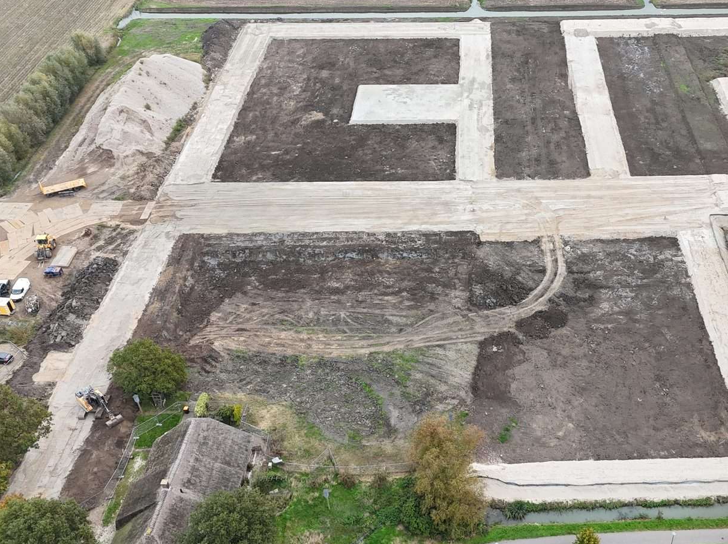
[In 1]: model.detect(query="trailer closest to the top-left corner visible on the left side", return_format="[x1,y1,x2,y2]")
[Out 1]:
[33,175,84,199]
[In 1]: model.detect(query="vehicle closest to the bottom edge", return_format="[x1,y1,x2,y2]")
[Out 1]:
[69,383,128,436]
